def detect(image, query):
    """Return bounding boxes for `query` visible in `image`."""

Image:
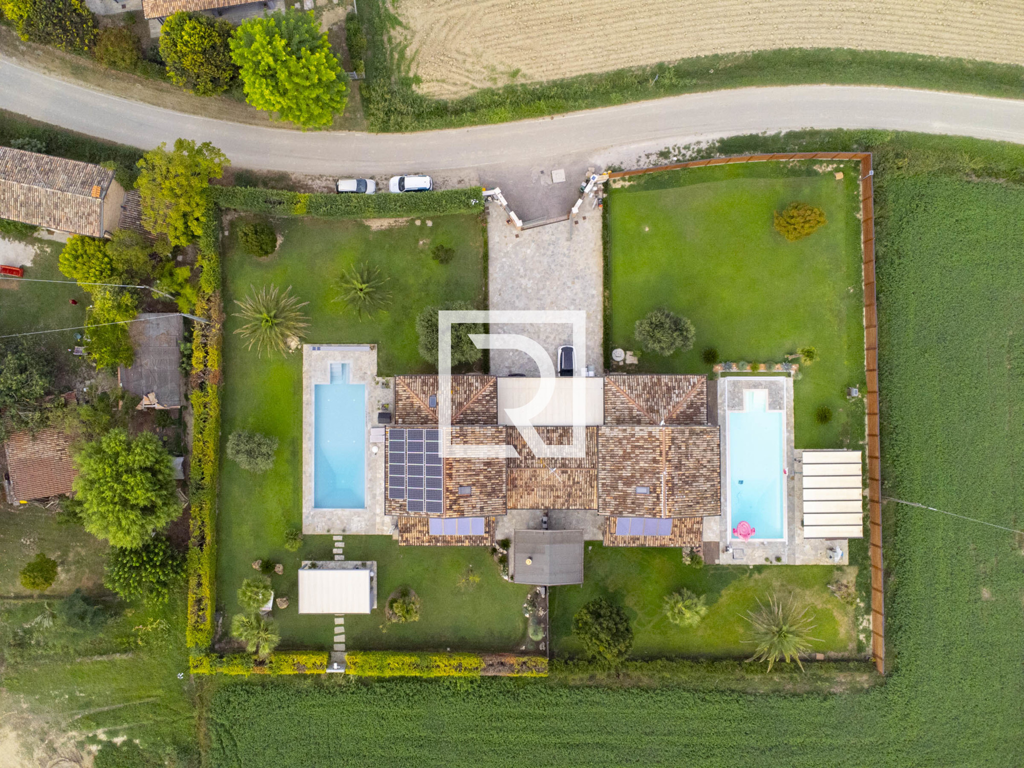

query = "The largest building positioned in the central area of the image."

[384,374,722,547]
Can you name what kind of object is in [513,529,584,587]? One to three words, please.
shed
